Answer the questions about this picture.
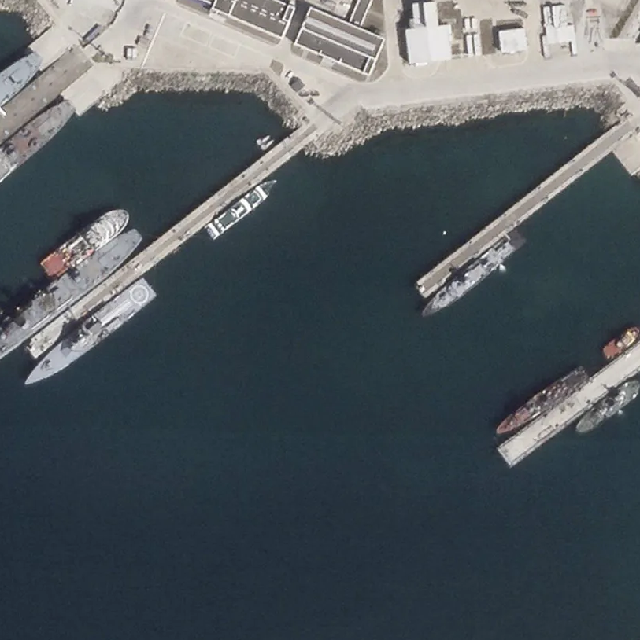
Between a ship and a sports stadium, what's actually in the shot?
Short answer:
ship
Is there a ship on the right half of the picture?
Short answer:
Yes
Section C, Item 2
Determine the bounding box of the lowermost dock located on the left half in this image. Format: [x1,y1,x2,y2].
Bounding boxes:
[27,125,317,360]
